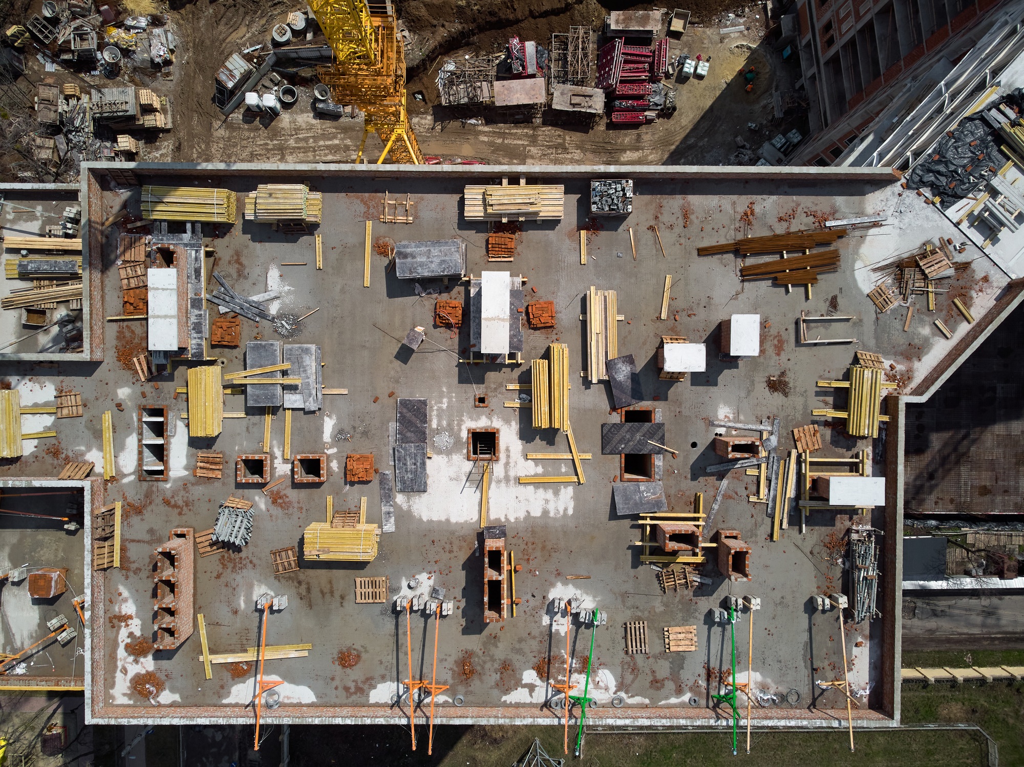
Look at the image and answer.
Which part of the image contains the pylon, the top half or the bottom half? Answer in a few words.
bottom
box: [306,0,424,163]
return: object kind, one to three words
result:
crane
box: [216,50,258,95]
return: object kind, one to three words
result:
shed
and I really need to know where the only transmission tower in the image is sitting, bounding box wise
[512,738,564,767]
